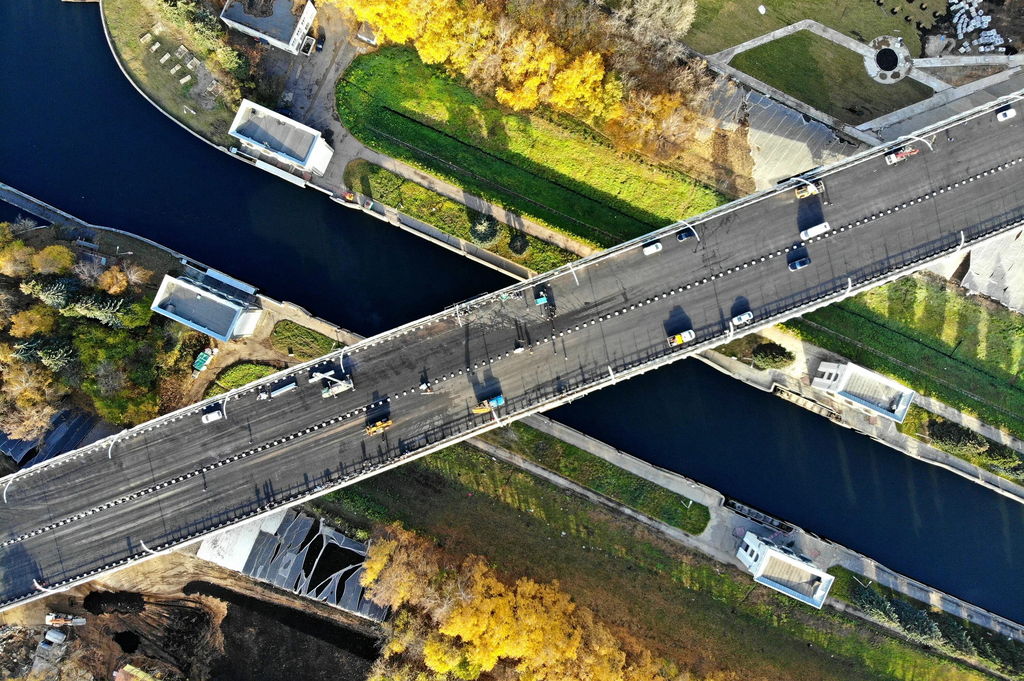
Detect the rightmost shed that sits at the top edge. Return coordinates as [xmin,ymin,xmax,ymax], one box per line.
[357,21,382,49]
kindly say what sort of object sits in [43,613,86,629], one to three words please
vehicle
